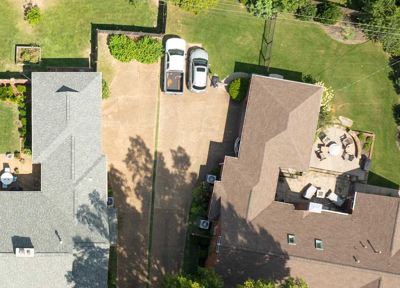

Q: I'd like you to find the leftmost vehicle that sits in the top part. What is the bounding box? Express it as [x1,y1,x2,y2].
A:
[163,38,188,99]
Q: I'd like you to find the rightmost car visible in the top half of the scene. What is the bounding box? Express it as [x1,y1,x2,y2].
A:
[187,47,210,94]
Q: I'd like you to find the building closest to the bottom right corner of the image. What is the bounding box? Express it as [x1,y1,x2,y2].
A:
[205,74,400,288]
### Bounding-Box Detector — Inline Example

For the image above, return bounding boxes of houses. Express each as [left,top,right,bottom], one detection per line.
[205,74,400,288]
[0,72,117,288]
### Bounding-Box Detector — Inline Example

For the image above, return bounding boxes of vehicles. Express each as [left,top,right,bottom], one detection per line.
[187,47,210,94]
[163,38,188,99]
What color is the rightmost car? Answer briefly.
white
